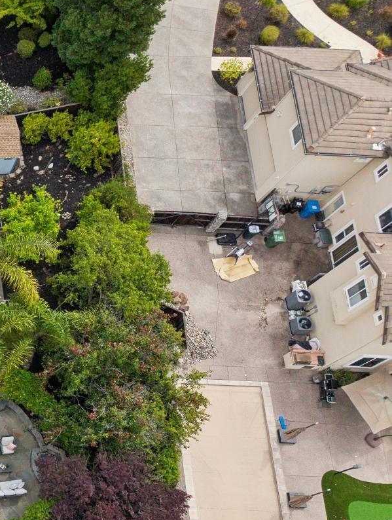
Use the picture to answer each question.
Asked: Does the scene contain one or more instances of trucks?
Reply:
No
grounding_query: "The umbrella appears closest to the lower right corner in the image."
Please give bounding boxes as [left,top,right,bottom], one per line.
[285,491,326,507]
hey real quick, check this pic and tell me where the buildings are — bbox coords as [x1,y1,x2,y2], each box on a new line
[0,116,26,178]
[235,45,392,371]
